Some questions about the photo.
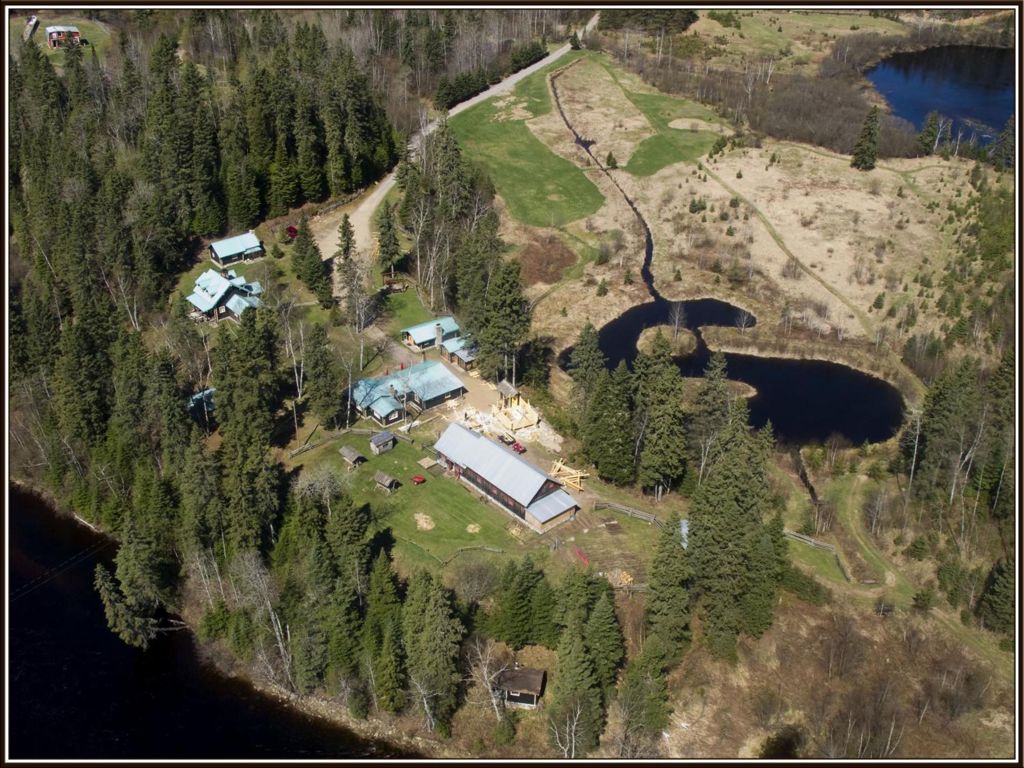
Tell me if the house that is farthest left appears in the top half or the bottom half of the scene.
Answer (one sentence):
The house that is farthest left is in the top half of the image.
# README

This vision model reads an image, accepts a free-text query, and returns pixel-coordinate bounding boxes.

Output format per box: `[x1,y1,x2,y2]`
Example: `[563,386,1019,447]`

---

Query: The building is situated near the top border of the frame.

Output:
[46,24,83,49]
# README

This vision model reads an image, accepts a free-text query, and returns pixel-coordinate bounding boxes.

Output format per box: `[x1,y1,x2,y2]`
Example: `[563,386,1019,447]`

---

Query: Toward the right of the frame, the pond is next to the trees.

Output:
[558,286,907,461]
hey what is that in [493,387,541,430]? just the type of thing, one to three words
building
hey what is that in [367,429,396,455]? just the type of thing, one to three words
shed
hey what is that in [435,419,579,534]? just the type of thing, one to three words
barn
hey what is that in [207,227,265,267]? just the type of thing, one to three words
building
